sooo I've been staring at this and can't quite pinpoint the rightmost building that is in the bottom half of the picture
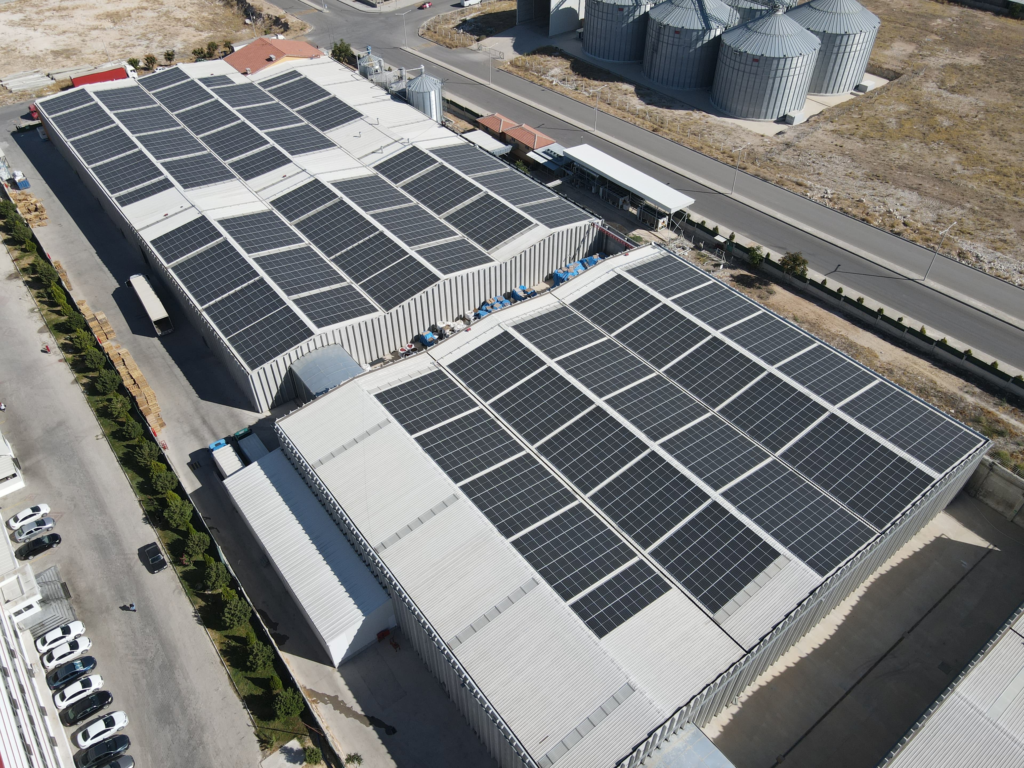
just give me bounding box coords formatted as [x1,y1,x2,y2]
[872,596,1024,768]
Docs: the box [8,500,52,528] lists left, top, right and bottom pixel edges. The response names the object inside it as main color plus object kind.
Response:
white car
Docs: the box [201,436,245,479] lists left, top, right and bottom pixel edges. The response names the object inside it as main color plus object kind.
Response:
white truck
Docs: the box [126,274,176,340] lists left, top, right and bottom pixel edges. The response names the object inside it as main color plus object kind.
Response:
white truck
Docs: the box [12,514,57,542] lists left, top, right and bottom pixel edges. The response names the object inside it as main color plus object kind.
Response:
gray car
